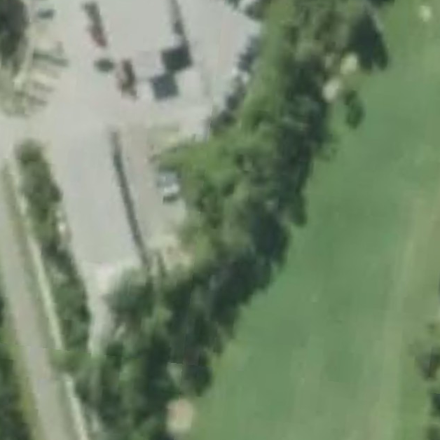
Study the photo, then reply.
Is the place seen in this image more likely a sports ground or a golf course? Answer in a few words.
golf course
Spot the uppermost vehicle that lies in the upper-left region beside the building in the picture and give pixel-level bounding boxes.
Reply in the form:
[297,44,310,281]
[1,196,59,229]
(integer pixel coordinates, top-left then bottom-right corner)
[85,0,99,22]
